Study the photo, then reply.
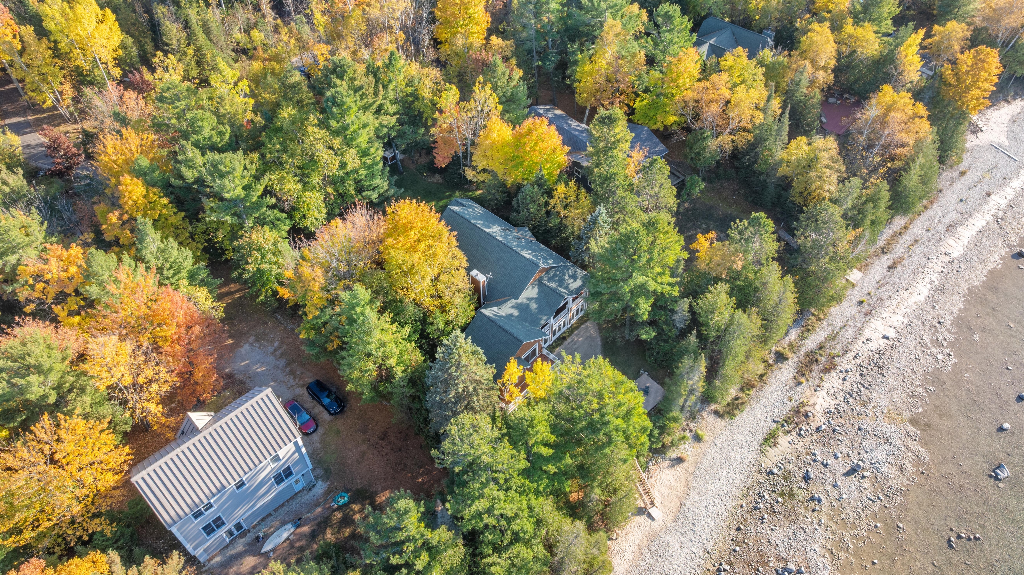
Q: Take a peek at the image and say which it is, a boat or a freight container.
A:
boat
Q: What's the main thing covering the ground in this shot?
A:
trees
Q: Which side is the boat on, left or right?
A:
left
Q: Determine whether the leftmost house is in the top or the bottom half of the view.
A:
bottom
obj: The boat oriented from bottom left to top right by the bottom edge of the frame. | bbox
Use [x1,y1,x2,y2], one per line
[261,514,304,555]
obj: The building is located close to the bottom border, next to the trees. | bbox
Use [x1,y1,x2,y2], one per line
[129,385,313,562]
